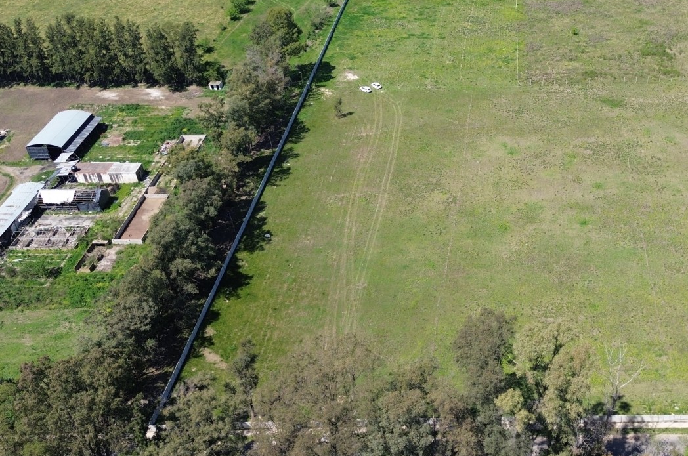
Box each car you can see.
[371,80,382,89]
[359,83,373,92]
